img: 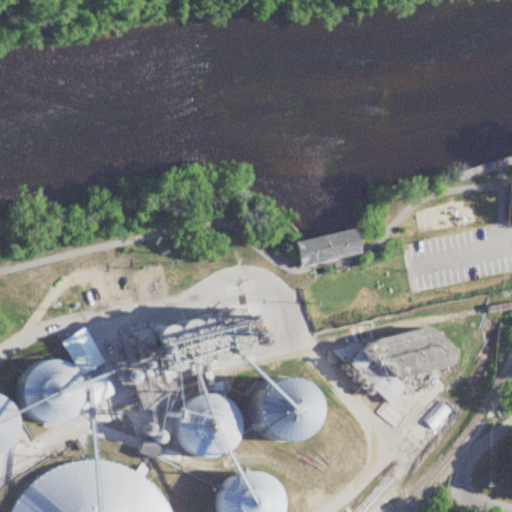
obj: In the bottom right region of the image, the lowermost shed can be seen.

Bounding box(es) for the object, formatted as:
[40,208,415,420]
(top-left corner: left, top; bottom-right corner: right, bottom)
[422,403,452,430]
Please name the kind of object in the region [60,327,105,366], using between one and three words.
shed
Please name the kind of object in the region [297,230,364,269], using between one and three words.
building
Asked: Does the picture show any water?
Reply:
Yes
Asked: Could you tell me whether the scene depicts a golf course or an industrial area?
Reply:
industrial area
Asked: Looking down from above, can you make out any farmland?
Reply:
No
